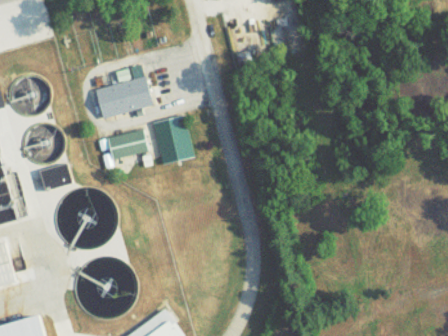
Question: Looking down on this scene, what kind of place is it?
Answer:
industrial area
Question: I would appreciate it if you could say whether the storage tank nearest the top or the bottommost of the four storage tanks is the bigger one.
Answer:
the bottommost of the four storage tanks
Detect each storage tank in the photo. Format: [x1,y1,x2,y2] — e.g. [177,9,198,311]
[4,72,51,116]
[72,256,137,318]
[55,186,118,252]
[19,122,65,164]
